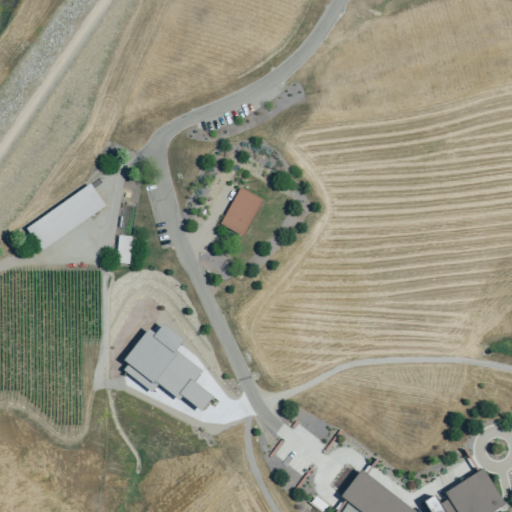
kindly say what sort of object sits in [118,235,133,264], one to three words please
shed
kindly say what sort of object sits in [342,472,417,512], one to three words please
building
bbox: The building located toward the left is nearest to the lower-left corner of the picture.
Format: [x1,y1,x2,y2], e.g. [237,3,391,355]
[124,324,214,410]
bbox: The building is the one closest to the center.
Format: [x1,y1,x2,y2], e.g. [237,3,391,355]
[223,188,263,236]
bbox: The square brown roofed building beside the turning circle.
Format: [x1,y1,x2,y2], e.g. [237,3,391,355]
[442,470,506,512]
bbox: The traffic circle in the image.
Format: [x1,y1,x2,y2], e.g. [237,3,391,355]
[474,426,512,473]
